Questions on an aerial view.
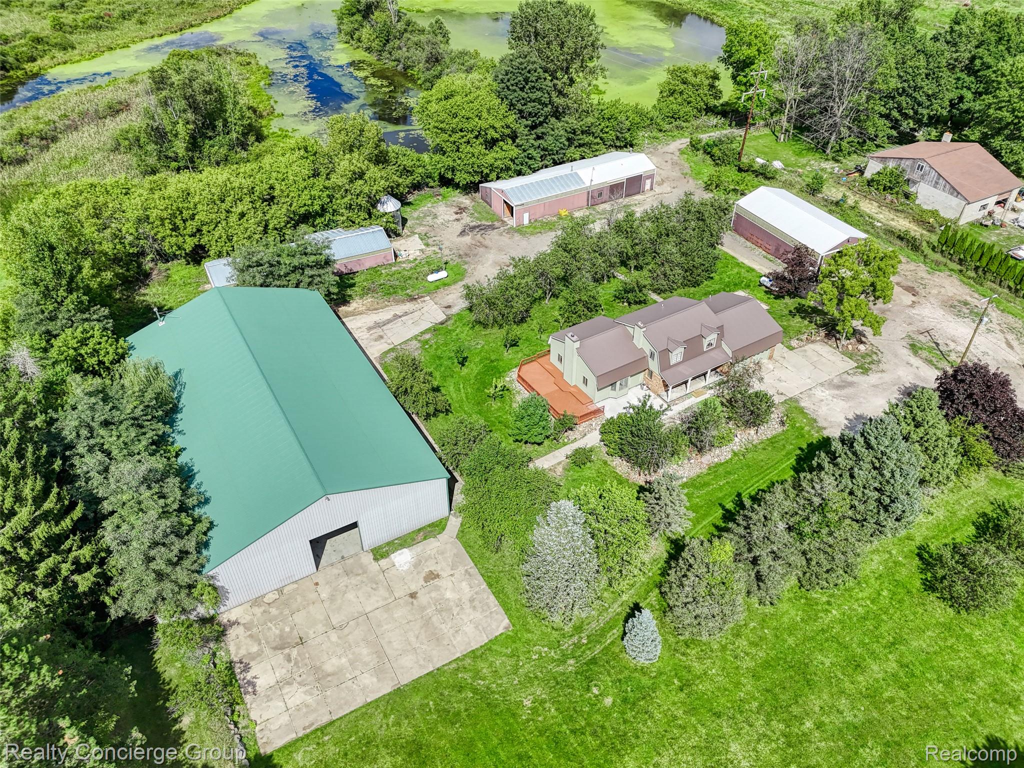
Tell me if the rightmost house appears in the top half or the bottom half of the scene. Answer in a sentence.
The top half of the photo is where the rightmost house is.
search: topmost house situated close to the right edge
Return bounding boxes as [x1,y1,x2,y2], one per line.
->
[862,128,1024,225]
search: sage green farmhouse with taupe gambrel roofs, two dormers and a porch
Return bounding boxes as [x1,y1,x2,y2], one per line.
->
[549,291,782,405]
